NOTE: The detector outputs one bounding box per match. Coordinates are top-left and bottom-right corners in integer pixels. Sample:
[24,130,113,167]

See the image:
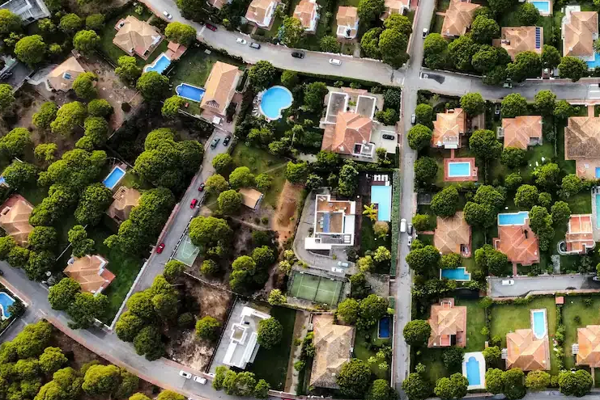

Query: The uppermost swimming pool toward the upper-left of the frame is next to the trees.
[140,48,175,72]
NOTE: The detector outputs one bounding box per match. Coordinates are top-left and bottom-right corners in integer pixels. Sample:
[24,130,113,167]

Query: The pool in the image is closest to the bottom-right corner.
[531,308,549,331]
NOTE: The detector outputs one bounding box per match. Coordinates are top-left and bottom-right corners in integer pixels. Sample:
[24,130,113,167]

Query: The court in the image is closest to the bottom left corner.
[173,236,202,267]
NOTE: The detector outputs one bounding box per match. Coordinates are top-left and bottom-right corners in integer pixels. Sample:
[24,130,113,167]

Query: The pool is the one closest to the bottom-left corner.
[0,289,16,322]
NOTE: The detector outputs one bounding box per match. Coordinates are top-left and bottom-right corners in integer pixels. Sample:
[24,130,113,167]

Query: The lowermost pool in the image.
[461,350,487,392]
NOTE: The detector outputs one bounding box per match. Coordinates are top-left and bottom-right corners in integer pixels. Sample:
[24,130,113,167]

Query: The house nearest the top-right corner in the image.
[561,3,598,63]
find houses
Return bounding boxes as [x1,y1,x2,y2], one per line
[434,210,472,256]
[573,323,600,366]
[384,0,419,17]
[496,117,542,152]
[493,24,543,60]
[43,57,91,99]
[501,324,550,372]
[291,0,326,38]
[0,192,32,248]
[304,194,359,250]
[493,228,539,266]
[564,119,600,160]
[244,0,286,33]
[67,255,121,293]
[114,15,166,63]
[198,61,243,126]
[238,191,262,208]
[109,184,135,222]
[323,91,380,166]
[433,108,467,150]
[336,5,360,40]
[430,298,467,343]
[438,0,485,41]
[307,312,359,392]
[558,215,595,255]
[561,3,598,63]
[220,302,277,372]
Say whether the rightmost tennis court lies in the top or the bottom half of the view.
bottom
